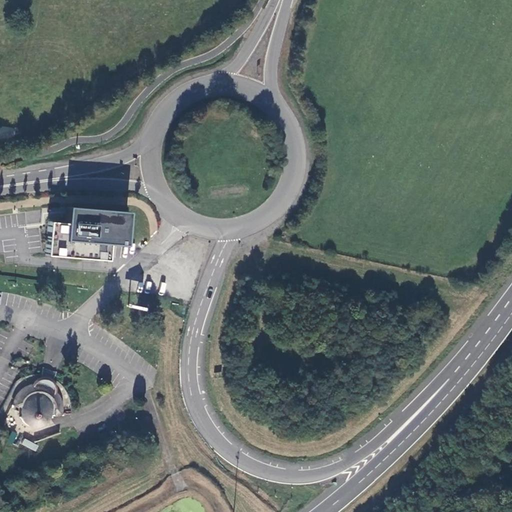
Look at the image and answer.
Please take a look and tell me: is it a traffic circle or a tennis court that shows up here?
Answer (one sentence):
Of the two, only a traffic circle appears.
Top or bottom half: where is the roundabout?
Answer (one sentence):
The top half of the photo is where the roundabout is.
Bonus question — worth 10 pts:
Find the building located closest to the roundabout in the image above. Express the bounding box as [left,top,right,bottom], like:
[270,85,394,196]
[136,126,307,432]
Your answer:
[46,208,134,261]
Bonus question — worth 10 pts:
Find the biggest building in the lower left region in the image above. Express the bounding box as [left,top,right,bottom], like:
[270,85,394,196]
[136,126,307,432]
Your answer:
[2,376,71,443]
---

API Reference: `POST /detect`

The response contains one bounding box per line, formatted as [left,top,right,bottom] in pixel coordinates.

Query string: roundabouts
[131,72,308,243]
